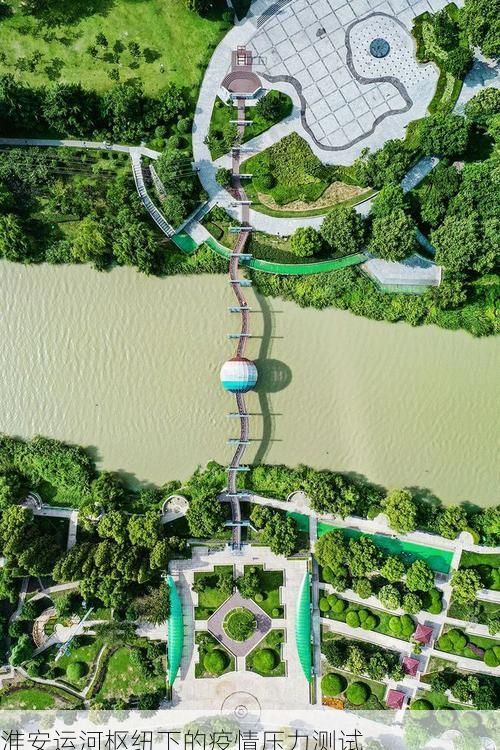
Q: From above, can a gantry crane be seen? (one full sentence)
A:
No, there isn't any gantry crane down there.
